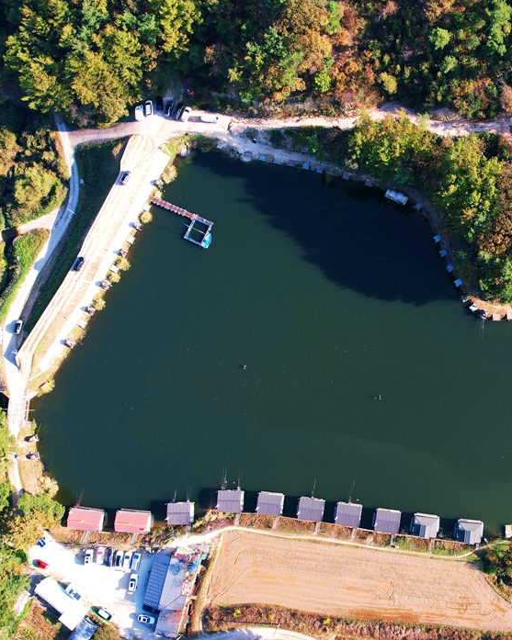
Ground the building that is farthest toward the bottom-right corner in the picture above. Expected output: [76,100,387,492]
[455,515,484,543]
